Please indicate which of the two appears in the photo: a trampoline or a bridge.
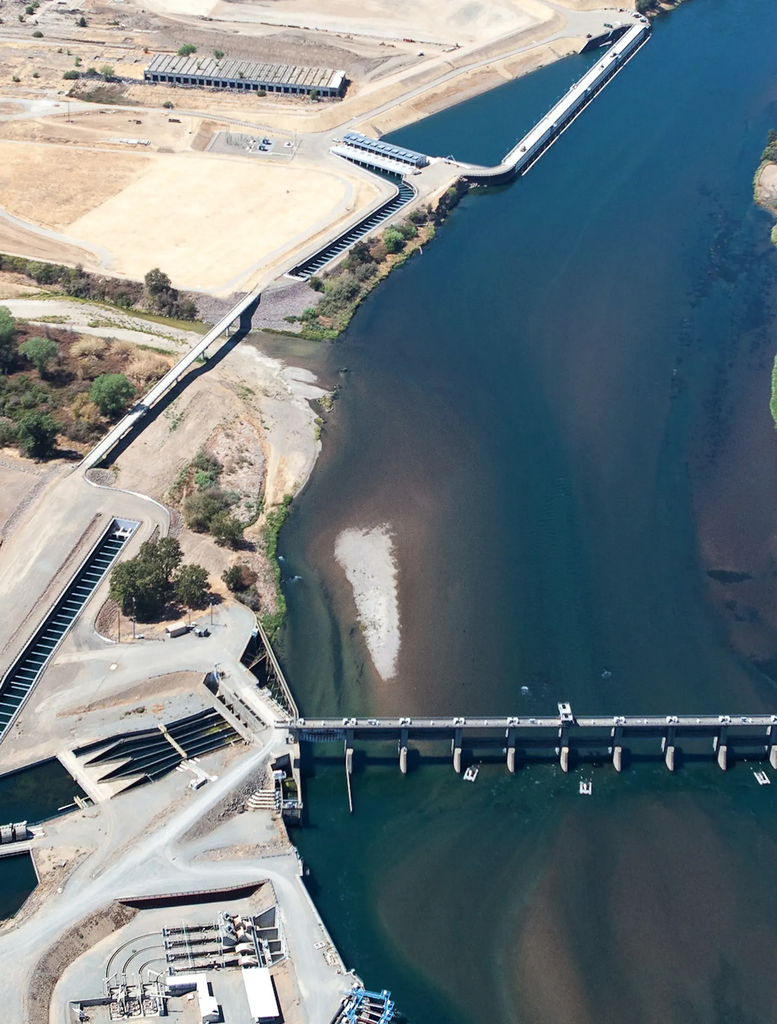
bridge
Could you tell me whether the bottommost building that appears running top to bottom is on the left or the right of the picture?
left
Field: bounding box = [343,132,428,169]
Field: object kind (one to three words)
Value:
building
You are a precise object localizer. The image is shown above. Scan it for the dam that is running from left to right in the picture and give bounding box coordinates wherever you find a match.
[289,713,777,783]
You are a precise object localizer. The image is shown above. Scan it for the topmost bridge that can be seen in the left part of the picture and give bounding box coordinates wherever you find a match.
[64,285,262,537]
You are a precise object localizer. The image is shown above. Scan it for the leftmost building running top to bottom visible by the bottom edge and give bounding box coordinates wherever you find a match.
[242,967,279,1024]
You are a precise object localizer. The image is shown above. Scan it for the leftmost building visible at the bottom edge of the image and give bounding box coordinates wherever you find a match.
[166,974,219,1024]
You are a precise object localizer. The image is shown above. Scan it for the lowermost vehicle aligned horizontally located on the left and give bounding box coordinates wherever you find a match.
[186,777,209,789]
